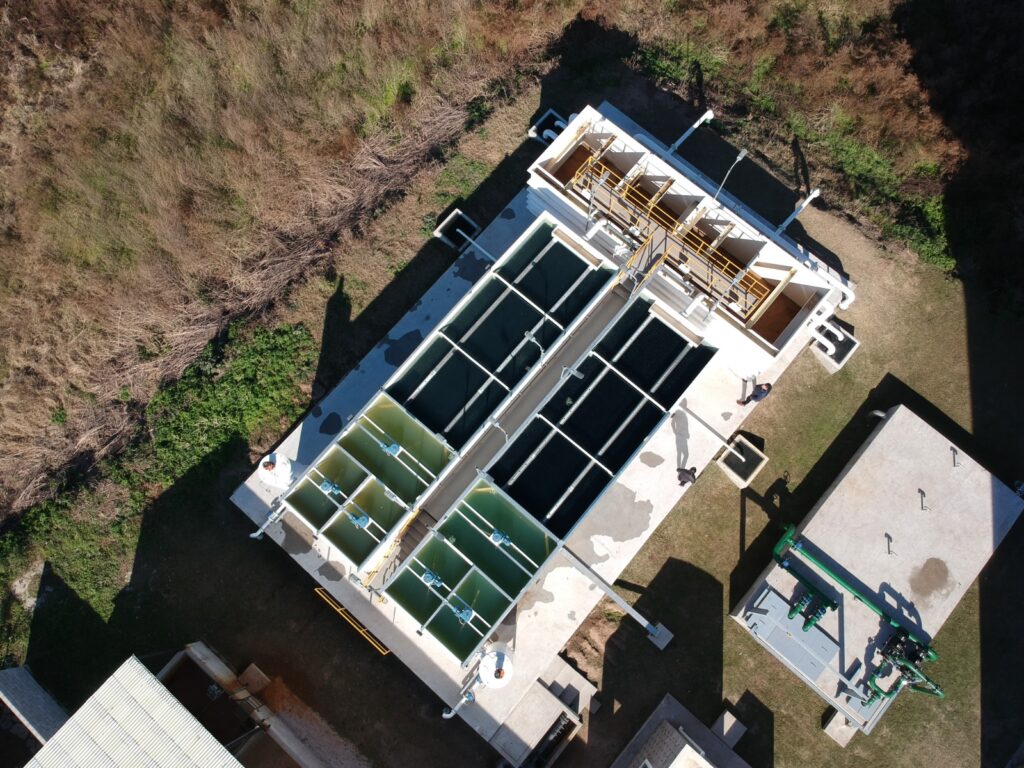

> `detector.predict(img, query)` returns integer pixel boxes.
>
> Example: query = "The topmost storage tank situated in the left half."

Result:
[259,454,308,492]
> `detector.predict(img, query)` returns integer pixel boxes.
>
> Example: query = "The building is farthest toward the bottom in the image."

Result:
[633,721,726,768]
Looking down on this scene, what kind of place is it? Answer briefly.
industrial area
